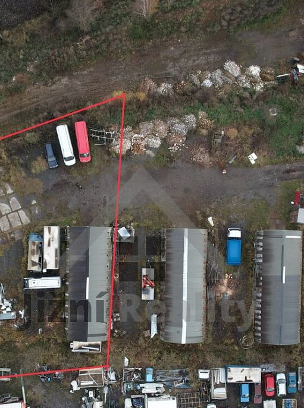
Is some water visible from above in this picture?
No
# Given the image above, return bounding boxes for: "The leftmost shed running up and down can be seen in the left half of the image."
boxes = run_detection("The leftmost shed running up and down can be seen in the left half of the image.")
[63,226,113,343]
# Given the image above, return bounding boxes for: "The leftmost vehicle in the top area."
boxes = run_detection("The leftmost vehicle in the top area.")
[43,143,60,169]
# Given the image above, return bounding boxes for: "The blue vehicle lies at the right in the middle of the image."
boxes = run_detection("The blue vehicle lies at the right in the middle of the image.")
[226,227,242,265]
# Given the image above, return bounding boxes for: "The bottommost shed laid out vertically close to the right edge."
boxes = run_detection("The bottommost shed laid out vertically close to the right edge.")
[253,230,302,347]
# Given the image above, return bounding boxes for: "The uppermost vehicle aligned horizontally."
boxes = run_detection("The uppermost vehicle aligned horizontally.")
[23,277,62,289]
